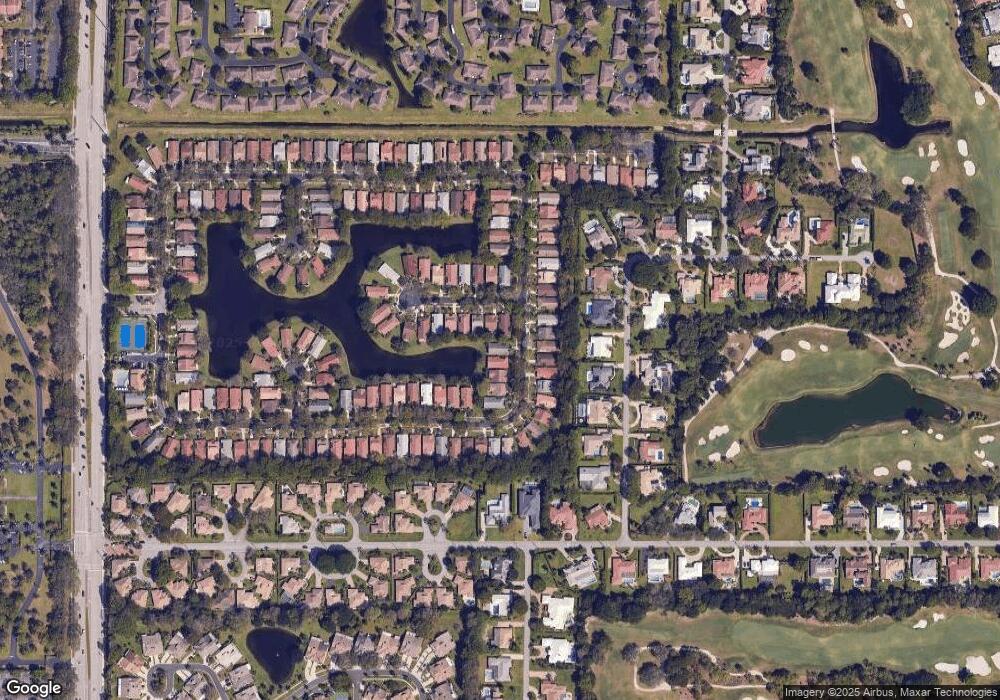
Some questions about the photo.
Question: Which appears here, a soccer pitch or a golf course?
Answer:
golf course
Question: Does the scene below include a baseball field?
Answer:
No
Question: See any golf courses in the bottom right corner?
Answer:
Yes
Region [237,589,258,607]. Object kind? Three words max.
house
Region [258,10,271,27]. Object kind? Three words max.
swimming pool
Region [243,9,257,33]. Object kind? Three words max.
building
